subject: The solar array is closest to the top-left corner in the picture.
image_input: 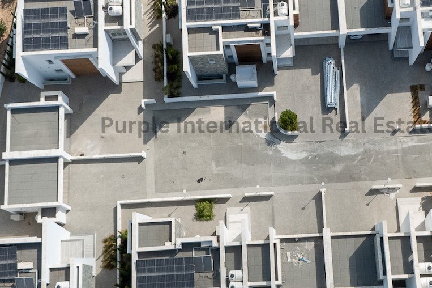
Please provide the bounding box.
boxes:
[23,4,69,52]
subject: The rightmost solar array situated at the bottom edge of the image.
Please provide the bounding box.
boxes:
[140,256,194,288]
